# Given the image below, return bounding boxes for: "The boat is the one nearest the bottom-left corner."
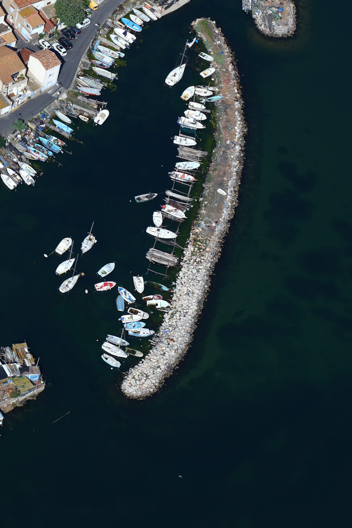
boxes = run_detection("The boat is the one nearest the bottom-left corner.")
[100,353,120,367]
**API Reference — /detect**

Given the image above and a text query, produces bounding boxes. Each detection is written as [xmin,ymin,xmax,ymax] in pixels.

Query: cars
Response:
[58,37,73,50]
[37,39,53,51]
[53,44,67,57]
[69,26,82,36]
[75,19,91,29]
[61,28,76,40]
